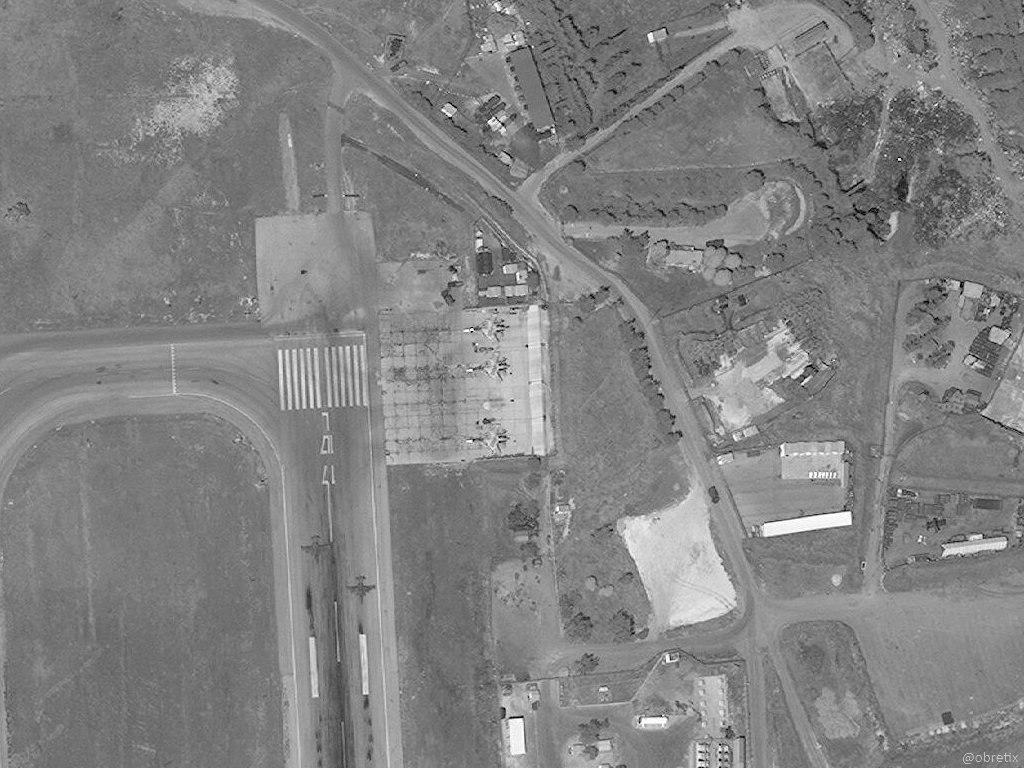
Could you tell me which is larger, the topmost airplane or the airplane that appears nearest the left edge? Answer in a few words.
the topmost airplane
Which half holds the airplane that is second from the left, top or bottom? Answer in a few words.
bottom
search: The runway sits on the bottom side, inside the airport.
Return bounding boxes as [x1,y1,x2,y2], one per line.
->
[130,331,402,768]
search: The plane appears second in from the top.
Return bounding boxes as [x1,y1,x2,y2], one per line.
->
[466,353,511,380]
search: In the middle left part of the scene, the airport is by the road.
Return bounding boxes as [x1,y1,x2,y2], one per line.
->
[0,113,553,768]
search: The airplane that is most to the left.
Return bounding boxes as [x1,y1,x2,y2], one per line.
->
[302,535,331,561]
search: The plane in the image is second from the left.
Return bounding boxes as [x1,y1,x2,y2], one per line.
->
[346,576,375,603]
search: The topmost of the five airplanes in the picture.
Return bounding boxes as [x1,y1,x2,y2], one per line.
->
[463,314,509,341]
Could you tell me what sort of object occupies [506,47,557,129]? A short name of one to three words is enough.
building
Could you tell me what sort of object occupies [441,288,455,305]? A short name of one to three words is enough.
vehicle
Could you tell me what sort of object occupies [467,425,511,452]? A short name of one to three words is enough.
airplane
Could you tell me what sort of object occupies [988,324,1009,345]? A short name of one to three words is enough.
house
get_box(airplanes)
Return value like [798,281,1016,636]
[302,535,331,561]
[466,353,511,380]
[346,576,375,603]
[467,425,511,452]
[463,314,509,341]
